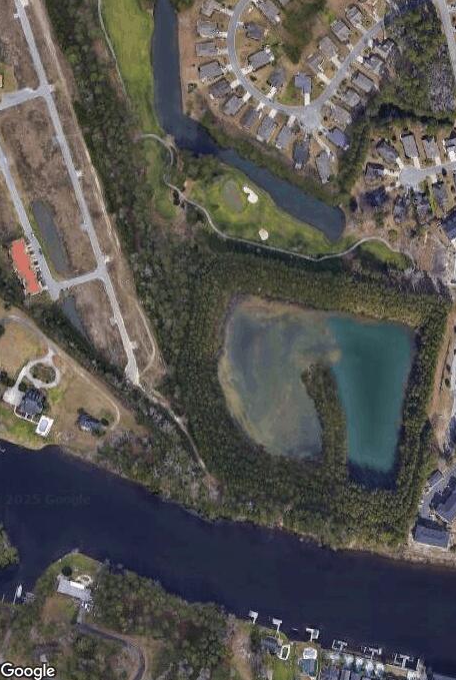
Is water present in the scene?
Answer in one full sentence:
Yes, there is water in the image.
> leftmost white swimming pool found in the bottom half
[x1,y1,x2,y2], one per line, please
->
[36,415,54,437]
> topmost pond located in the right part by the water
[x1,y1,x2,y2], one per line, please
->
[219,296,413,490]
